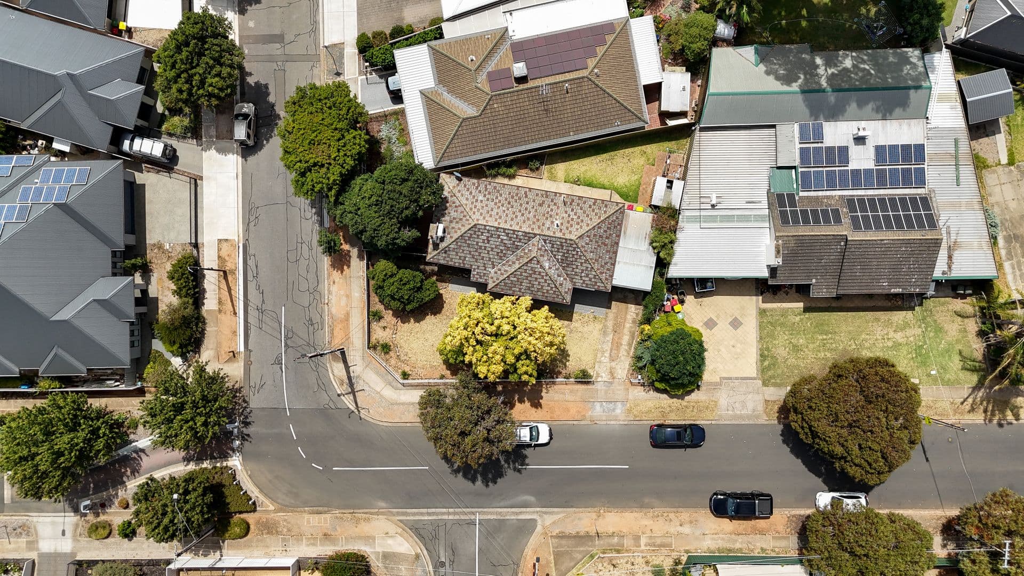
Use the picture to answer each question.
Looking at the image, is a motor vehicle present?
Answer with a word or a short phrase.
Yes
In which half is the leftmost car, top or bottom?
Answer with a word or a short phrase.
top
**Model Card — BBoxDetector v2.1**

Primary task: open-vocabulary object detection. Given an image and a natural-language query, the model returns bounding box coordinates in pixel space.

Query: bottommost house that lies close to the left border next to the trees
[0,153,146,376]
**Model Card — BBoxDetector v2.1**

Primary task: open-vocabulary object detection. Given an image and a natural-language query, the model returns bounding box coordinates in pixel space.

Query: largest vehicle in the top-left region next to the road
[230,98,260,147]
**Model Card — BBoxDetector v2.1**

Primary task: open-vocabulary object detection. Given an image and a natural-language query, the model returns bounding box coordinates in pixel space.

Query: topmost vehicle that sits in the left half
[385,74,405,101]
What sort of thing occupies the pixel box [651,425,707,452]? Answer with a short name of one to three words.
car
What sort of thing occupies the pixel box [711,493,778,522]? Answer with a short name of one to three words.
truck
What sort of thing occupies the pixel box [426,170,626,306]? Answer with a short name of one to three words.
house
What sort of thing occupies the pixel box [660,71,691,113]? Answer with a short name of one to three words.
shed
